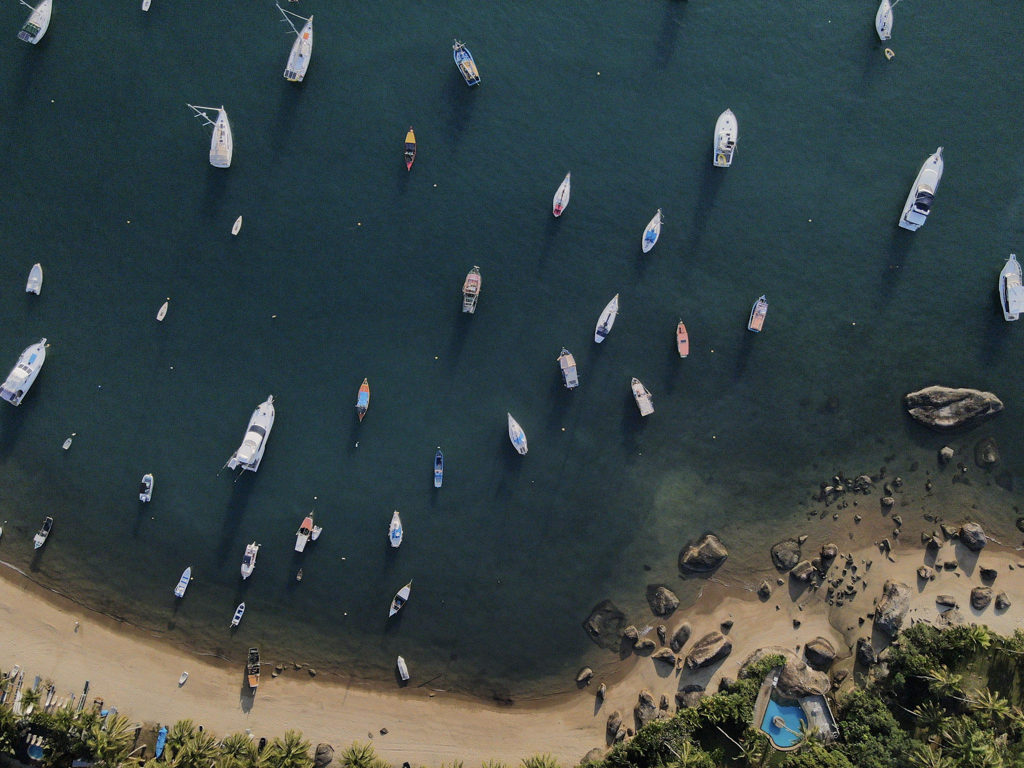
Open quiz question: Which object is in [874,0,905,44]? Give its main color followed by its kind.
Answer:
white boat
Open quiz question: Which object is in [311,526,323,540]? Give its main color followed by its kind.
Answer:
white boat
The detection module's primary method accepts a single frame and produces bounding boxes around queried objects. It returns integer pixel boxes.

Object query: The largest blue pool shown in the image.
[757,686,809,752]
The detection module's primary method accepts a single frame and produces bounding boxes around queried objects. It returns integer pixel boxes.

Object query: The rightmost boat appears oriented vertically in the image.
[996,254,1024,321]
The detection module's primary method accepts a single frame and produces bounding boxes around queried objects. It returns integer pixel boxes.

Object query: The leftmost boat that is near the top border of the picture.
[10,0,56,46]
